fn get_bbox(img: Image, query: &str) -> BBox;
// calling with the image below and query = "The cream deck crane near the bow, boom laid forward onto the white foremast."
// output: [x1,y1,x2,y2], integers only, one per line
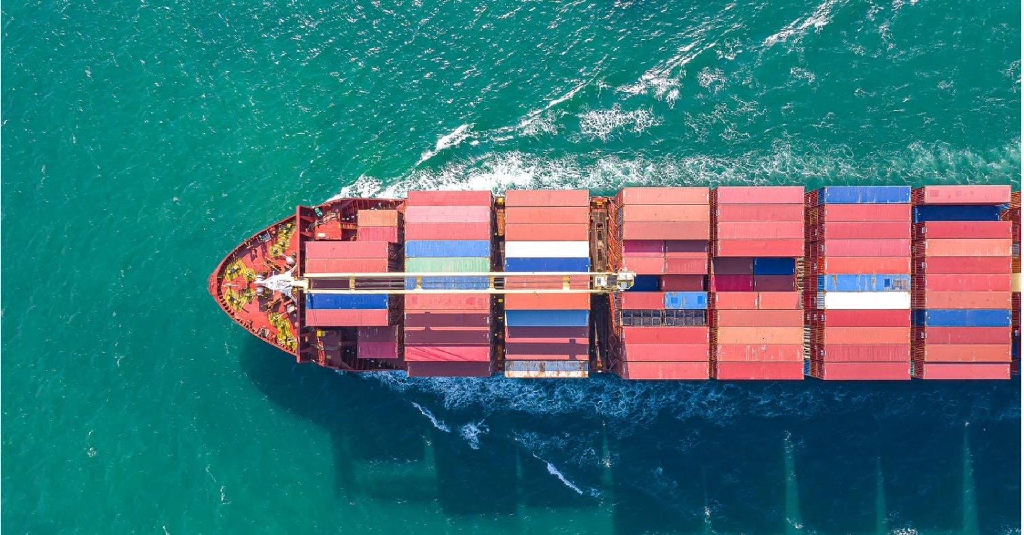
[304,267,635,301]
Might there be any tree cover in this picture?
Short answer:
No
